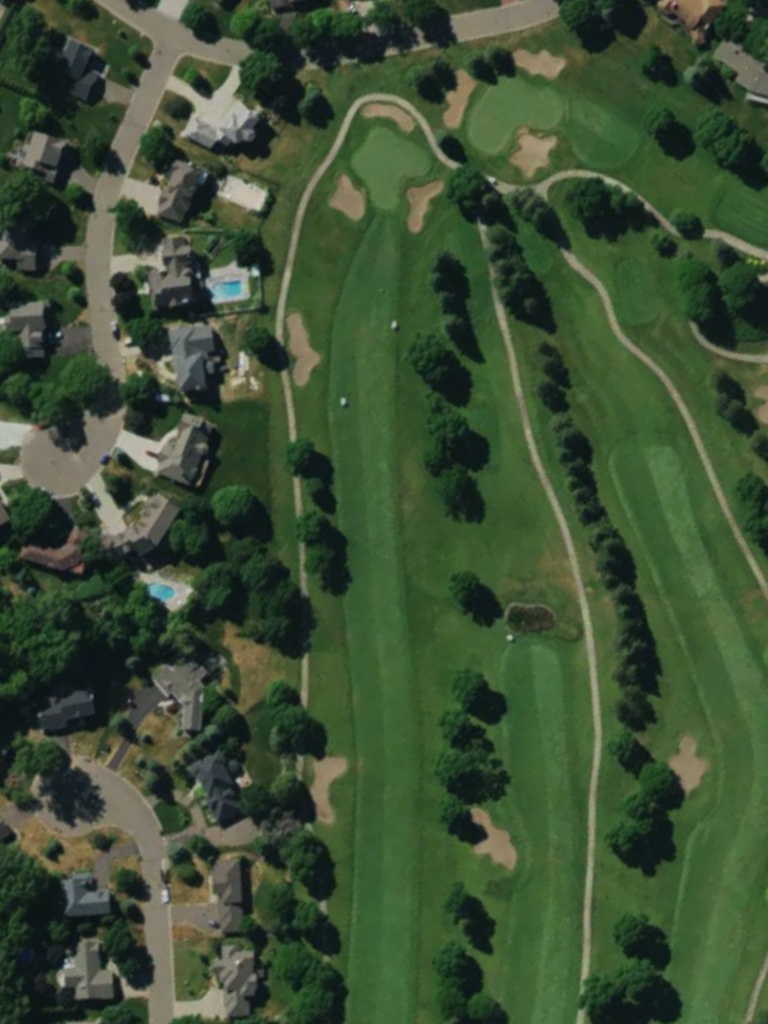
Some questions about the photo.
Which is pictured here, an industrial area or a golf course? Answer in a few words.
golf course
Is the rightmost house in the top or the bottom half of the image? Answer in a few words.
top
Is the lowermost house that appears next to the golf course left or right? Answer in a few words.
left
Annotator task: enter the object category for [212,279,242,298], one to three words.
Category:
swimming pool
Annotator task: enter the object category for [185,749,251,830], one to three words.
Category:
house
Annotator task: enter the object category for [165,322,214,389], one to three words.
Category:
house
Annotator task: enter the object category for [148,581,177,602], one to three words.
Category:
swimming pool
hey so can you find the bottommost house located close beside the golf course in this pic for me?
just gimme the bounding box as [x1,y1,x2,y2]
[208,944,261,1018]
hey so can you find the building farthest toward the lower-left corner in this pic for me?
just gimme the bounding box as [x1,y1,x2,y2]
[56,940,115,1001]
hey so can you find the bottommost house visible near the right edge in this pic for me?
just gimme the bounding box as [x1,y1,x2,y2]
[709,42,768,101]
